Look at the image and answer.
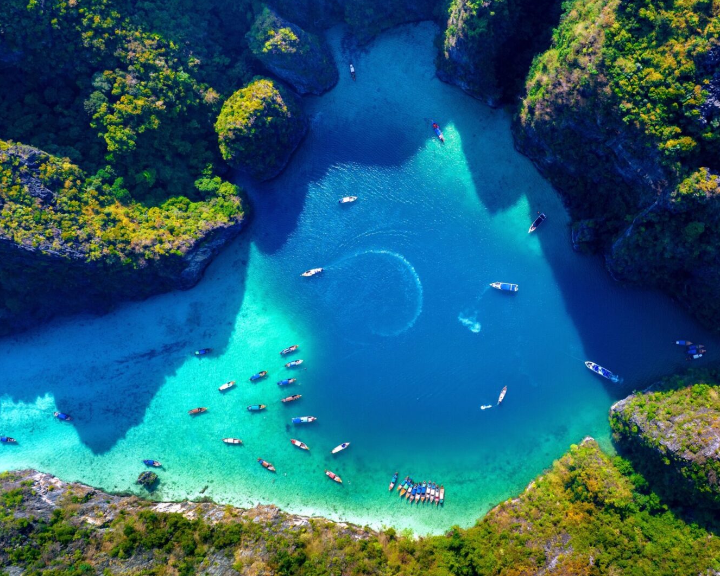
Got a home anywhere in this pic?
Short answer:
No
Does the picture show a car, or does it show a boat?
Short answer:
boat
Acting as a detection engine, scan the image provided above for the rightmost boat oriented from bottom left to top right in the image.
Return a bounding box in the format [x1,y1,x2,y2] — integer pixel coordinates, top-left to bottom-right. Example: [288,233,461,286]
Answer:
[529,212,547,233]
